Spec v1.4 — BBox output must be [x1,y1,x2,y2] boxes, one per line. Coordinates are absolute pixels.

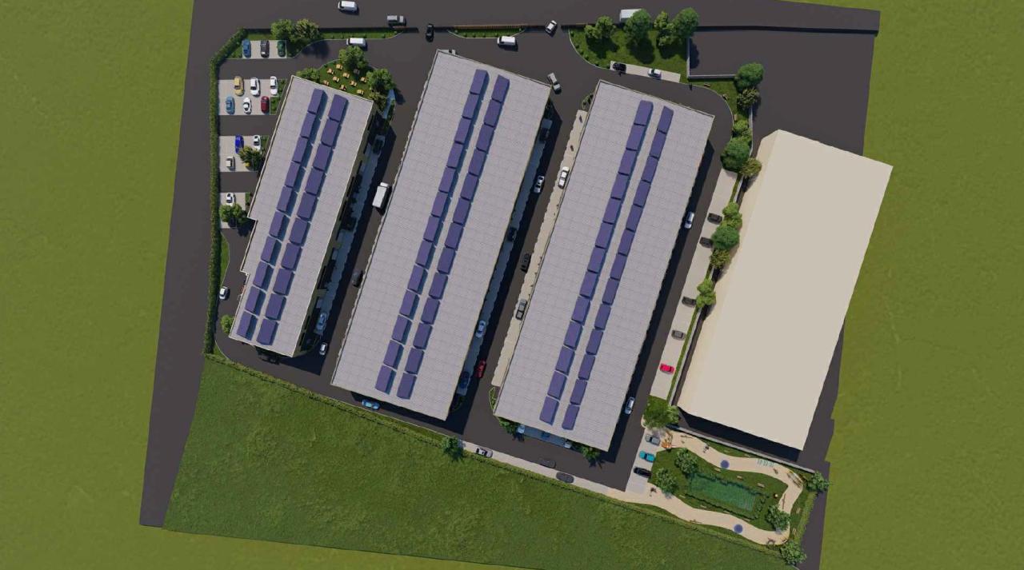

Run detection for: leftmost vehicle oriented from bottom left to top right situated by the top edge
[545,19,557,35]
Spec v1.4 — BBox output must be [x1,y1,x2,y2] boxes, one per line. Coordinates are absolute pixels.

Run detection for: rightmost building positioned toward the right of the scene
[678,130,893,450]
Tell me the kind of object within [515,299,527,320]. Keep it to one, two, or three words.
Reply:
vehicle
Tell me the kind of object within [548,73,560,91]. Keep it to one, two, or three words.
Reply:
vehicle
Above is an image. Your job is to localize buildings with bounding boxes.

[229,76,381,357]
[495,80,714,451]
[678,130,893,450]
[331,50,551,421]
